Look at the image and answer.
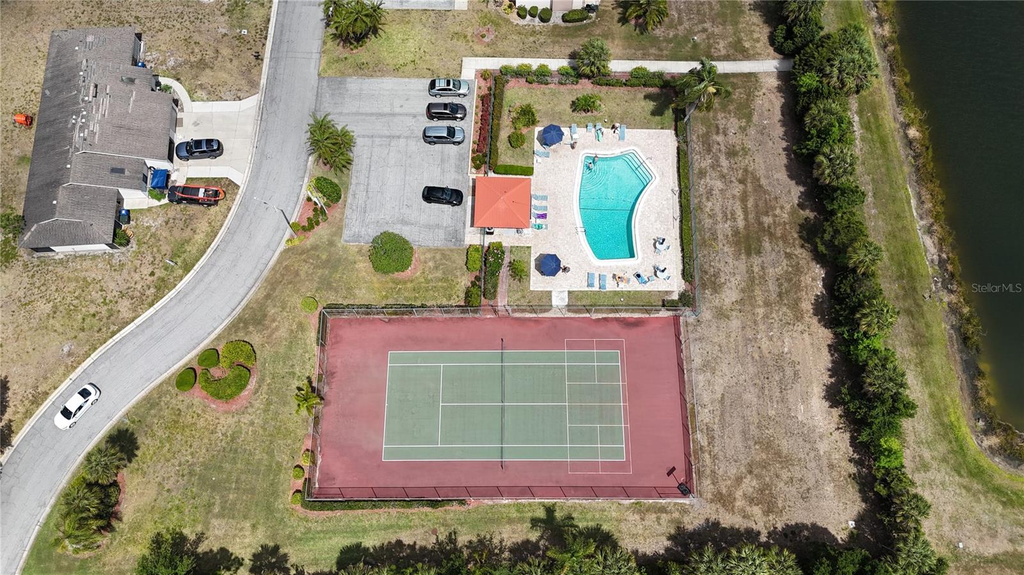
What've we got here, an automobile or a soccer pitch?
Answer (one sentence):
This aerial view contains an automobile.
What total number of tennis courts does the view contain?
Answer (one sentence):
Only 1 tennis court is visible.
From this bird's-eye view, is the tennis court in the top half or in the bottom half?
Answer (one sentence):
You can find the tennis court in the bottom half.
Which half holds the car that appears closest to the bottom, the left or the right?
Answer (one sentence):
You can find the car that appears closest to the bottom on the left side of the picture.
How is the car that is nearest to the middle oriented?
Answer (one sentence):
What the image shows is the car that is nearest to the middle lying from left to right.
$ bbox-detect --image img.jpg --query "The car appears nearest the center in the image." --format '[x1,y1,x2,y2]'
[421,186,463,208]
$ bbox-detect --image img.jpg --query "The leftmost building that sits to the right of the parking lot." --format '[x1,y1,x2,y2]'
[473,177,531,233]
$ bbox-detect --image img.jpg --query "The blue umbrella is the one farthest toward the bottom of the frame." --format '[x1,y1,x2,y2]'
[537,254,563,278]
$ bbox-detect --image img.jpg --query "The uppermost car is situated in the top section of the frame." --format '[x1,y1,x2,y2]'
[428,79,468,100]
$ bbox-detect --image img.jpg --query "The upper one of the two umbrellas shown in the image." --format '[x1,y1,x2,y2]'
[540,125,564,146]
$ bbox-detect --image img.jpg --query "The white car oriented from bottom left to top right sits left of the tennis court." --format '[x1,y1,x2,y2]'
[54,383,103,431]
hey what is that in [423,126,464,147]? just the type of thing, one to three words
car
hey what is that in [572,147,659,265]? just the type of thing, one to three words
swimming pool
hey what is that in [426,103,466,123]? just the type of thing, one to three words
car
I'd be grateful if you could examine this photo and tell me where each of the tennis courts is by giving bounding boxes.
[313,315,692,499]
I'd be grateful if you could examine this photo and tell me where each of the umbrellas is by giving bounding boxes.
[540,125,564,146]
[537,254,563,278]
